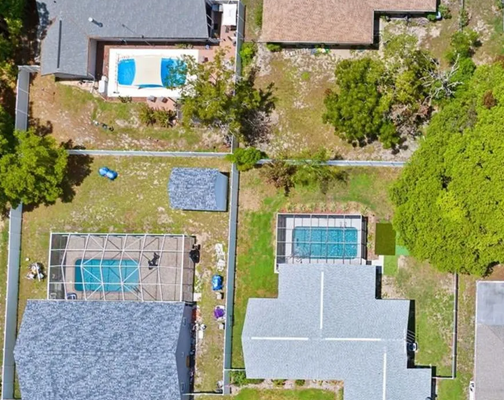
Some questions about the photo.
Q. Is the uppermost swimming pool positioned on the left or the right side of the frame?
left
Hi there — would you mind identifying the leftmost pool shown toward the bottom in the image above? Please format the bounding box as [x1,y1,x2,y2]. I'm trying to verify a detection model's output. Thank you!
[67,237,195,303]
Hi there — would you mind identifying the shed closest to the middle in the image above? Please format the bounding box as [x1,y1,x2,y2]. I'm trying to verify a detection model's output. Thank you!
[165,168,227,211]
